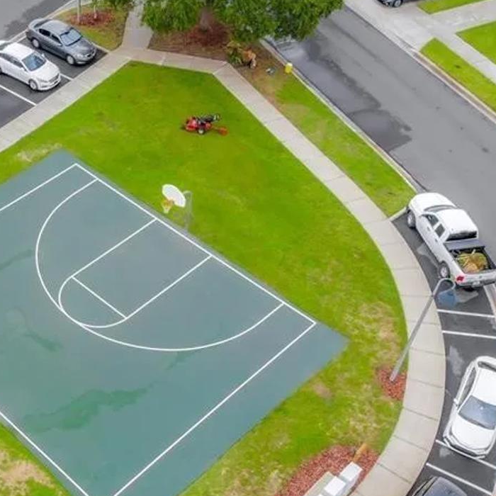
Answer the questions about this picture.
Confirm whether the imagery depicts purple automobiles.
No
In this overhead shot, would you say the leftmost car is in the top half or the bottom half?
top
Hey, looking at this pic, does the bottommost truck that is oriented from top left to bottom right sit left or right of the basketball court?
on the right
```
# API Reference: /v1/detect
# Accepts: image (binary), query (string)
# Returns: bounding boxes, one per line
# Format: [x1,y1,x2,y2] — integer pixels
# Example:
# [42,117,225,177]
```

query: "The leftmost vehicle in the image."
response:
[0,43,58,94]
